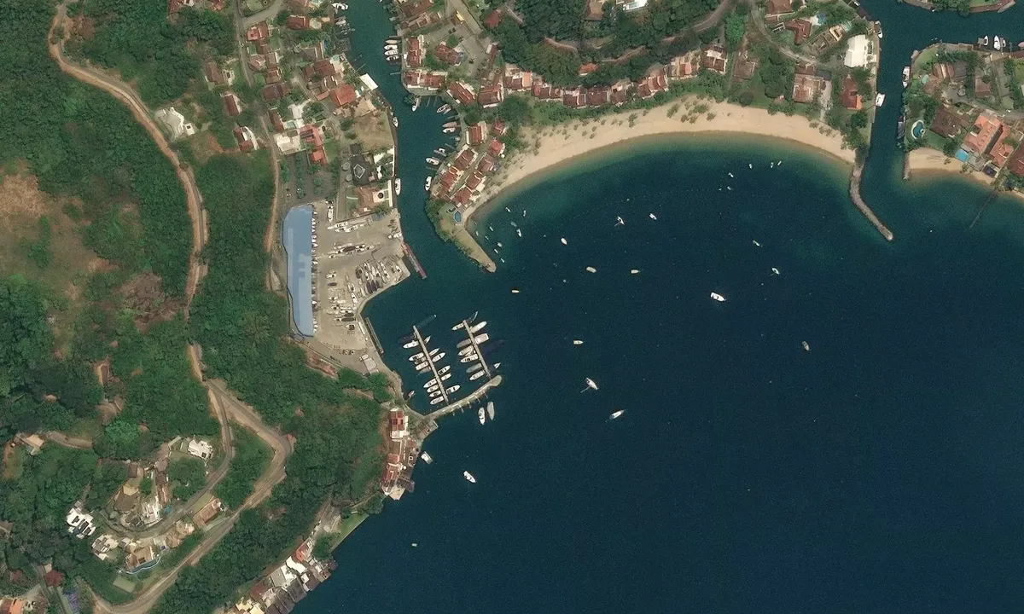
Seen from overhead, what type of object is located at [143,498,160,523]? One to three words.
house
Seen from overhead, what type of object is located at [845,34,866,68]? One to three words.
building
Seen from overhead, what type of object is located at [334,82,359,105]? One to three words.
house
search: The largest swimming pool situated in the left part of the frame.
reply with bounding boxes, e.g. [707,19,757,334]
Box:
[127,555,162,576]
